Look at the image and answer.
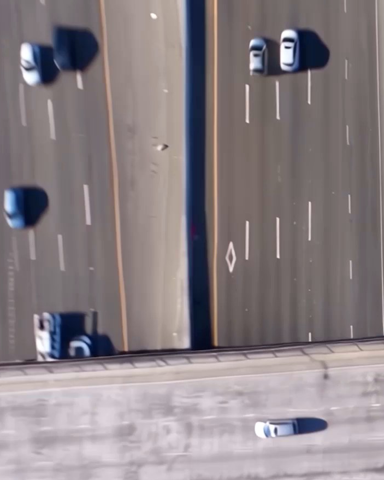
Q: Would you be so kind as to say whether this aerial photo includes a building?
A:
No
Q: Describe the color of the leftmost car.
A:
blue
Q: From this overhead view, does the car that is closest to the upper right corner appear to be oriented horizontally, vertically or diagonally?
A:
vertically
